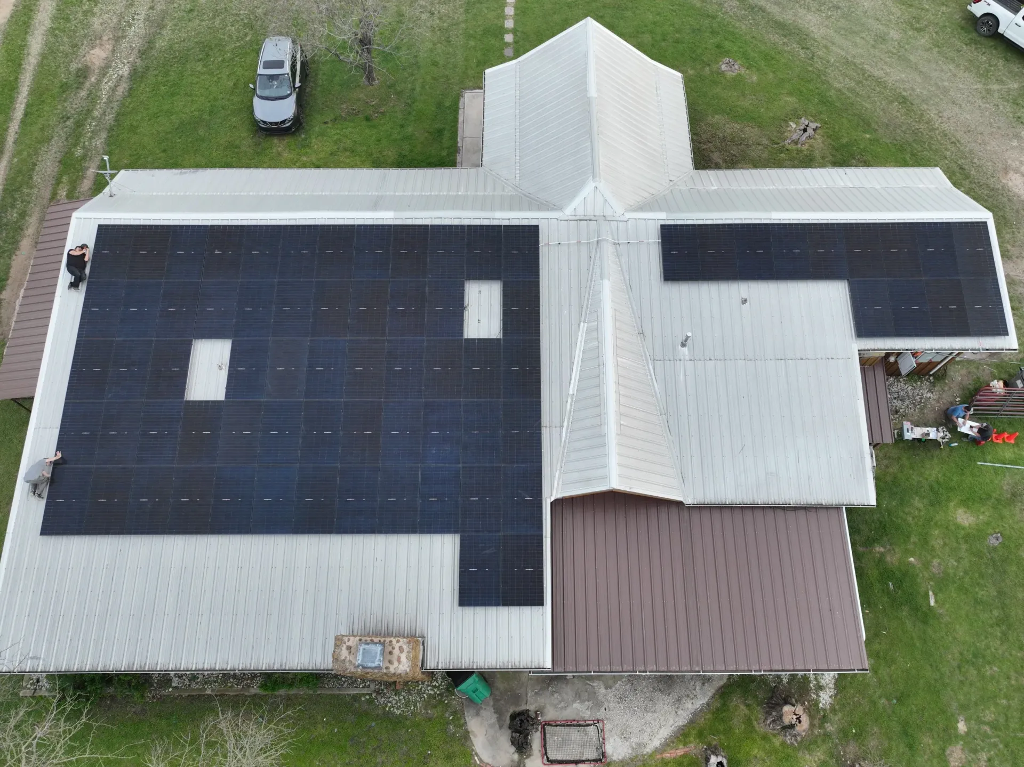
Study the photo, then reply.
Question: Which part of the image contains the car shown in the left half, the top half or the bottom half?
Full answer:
The car shown in the left half sits in the top half of the picture.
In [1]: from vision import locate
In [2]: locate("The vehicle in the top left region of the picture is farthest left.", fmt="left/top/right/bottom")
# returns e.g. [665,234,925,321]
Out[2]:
[244,36,310,134]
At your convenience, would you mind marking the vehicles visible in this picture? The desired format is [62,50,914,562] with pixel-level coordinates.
[969,0,1024,55]
[244,36,310,134]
